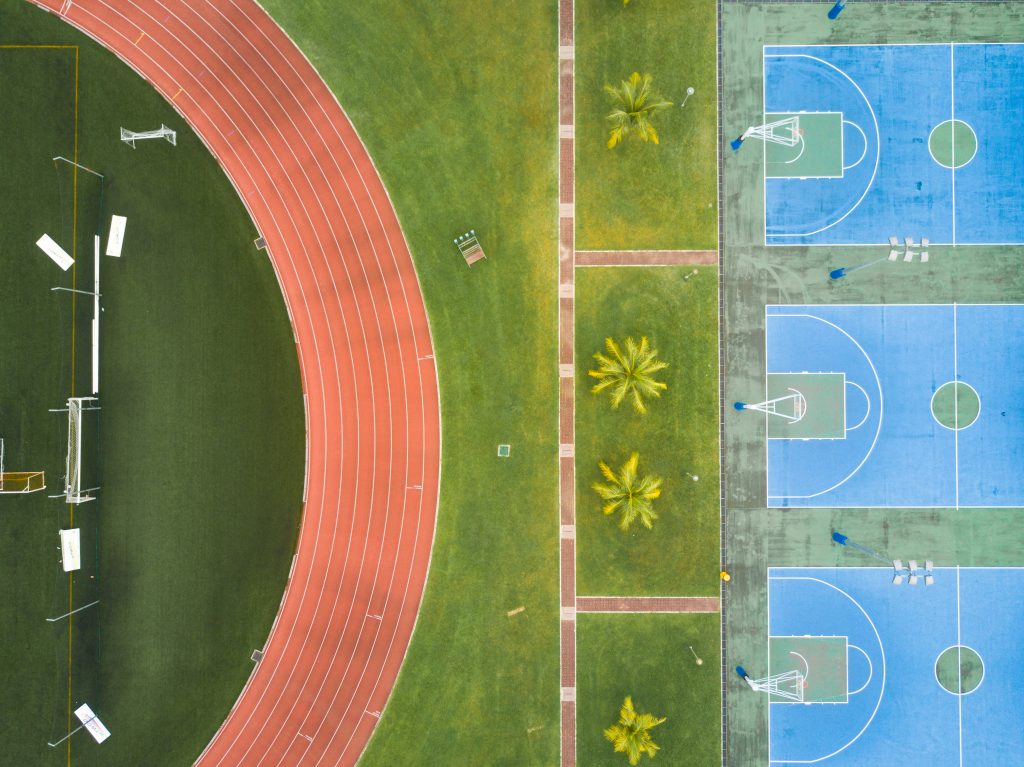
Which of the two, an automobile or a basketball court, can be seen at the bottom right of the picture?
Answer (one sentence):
It is a basketball court that can be seen at the bottom right of the picture.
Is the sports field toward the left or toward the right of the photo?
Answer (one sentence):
The sports field is on the left side of the image.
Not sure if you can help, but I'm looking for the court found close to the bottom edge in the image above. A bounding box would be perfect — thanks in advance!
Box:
[768,566,1024,767]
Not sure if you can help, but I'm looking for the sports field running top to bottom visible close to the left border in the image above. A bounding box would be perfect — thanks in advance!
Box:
[0,0,306,767]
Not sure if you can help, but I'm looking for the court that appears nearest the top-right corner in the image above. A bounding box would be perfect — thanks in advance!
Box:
[763,42,1024,247]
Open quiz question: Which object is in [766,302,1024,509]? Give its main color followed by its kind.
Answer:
blue basketball court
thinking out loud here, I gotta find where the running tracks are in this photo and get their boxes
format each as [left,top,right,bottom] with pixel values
[25,0,441,767]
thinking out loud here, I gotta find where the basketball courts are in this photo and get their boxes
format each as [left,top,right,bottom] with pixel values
[768,566,1024,767]
[766,302,1024,509]
[763,42,1024,247]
